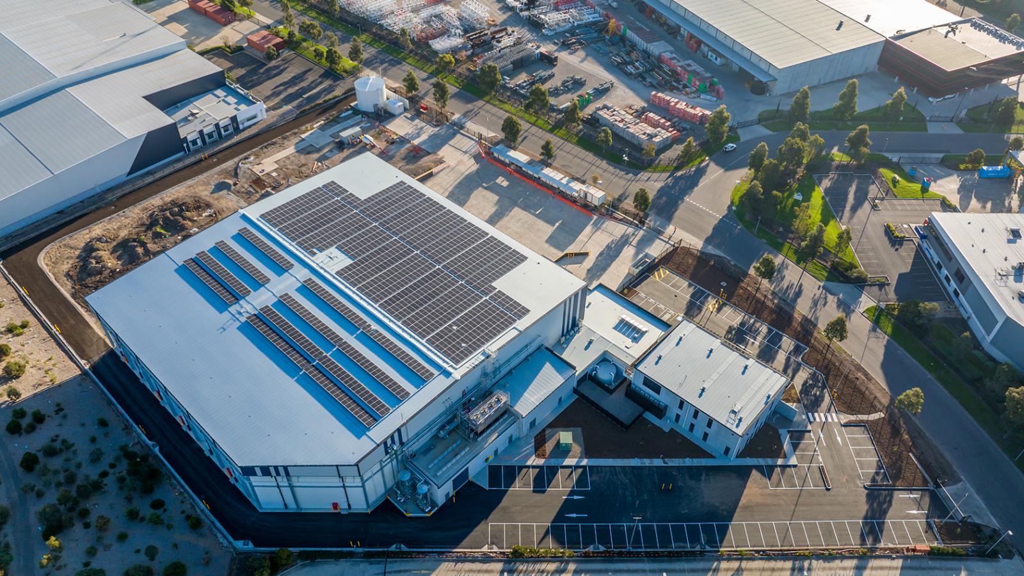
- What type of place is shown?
industrial area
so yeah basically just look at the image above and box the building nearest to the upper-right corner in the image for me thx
[876,15,1024,102]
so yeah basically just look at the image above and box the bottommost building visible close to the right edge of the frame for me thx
[911,211,1024,369]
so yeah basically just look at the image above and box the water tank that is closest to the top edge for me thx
[354,76,392,120]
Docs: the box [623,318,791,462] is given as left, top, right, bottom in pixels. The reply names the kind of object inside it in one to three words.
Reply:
building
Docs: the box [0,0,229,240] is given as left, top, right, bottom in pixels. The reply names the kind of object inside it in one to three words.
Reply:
warehouse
